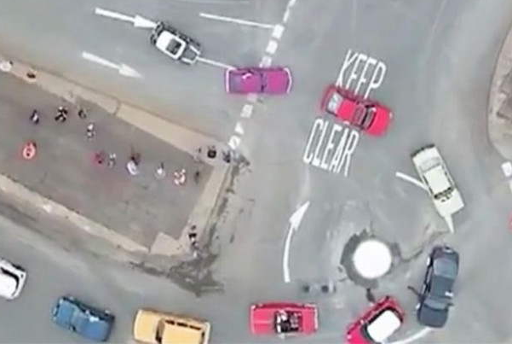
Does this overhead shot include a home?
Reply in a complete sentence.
No, no home is visible in the scene.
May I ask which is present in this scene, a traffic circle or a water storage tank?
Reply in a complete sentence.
This aerial view contains a traffic circle.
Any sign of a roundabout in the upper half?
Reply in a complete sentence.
No, looking in the upper half, there is no roundabout.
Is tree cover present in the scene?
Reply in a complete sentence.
No, there is no tree cover in the image.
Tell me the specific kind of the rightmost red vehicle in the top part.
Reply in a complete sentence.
I'd identify the rightmost red vehicle in the top part as an automobile.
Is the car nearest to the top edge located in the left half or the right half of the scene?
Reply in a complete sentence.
The car nearest to the top edge is on the left side of the image.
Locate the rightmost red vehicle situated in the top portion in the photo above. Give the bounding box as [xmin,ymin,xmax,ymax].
[322,84,392,135]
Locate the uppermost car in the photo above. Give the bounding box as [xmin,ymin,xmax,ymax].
[148,19,201,65]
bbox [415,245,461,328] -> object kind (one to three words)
car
